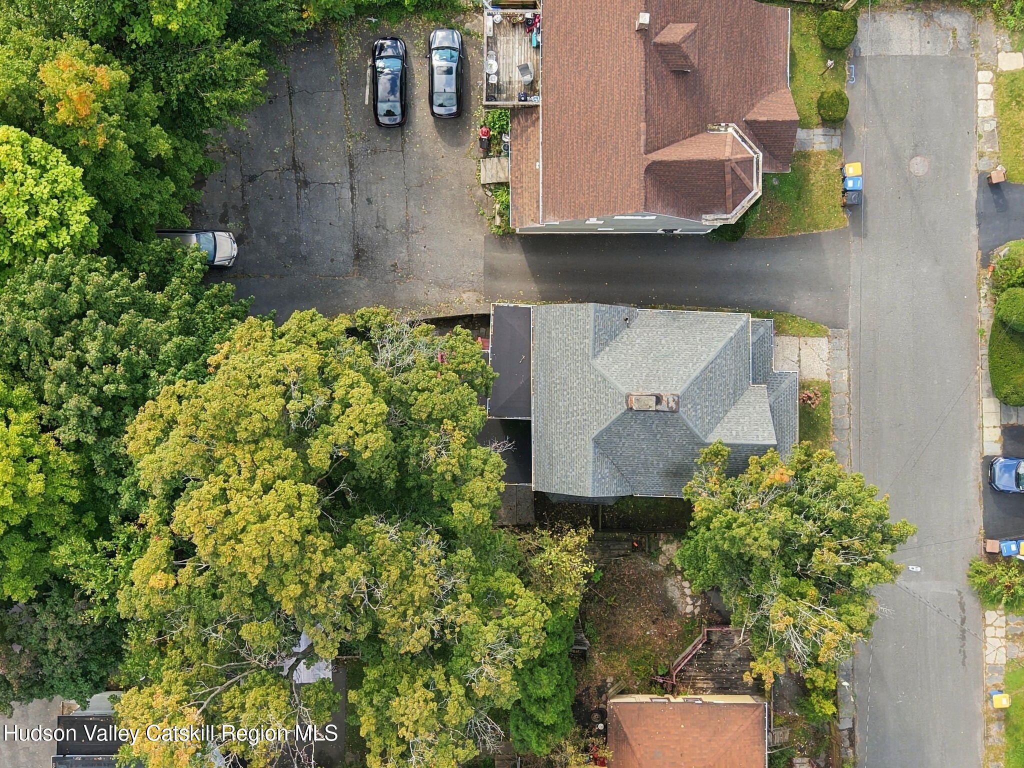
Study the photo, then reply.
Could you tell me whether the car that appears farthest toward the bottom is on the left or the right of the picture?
right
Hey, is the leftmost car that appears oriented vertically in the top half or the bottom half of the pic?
top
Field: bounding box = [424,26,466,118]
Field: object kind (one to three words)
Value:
car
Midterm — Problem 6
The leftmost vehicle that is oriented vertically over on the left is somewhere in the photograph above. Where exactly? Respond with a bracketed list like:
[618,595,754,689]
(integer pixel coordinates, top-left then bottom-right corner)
[367,34,409,126]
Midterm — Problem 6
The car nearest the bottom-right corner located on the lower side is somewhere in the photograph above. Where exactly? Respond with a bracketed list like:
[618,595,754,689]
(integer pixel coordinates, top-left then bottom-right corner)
[990,455,1024,499]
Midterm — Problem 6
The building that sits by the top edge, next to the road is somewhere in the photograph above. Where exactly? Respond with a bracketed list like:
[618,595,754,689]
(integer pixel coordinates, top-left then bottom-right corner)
[509,0,800,236]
